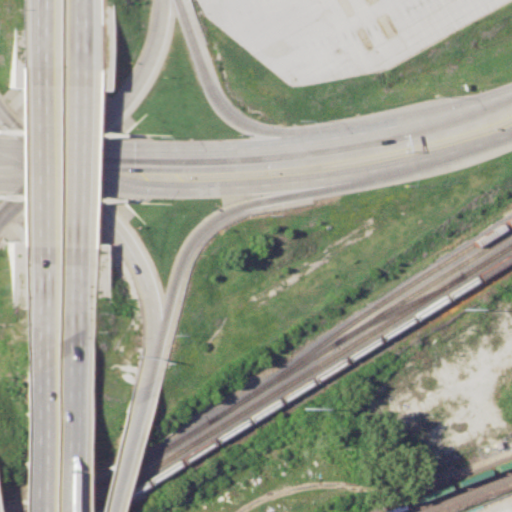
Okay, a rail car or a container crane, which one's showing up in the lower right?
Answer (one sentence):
There is a rail car in the lower right.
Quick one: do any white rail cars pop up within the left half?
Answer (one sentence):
Yes, a white rail car shows up within the left half.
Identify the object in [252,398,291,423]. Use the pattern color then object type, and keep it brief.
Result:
white rail car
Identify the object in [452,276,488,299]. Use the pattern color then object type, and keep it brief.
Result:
white rail car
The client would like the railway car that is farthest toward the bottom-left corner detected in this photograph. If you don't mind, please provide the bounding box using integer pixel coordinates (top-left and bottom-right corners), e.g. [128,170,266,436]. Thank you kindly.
[132,482,158,502]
